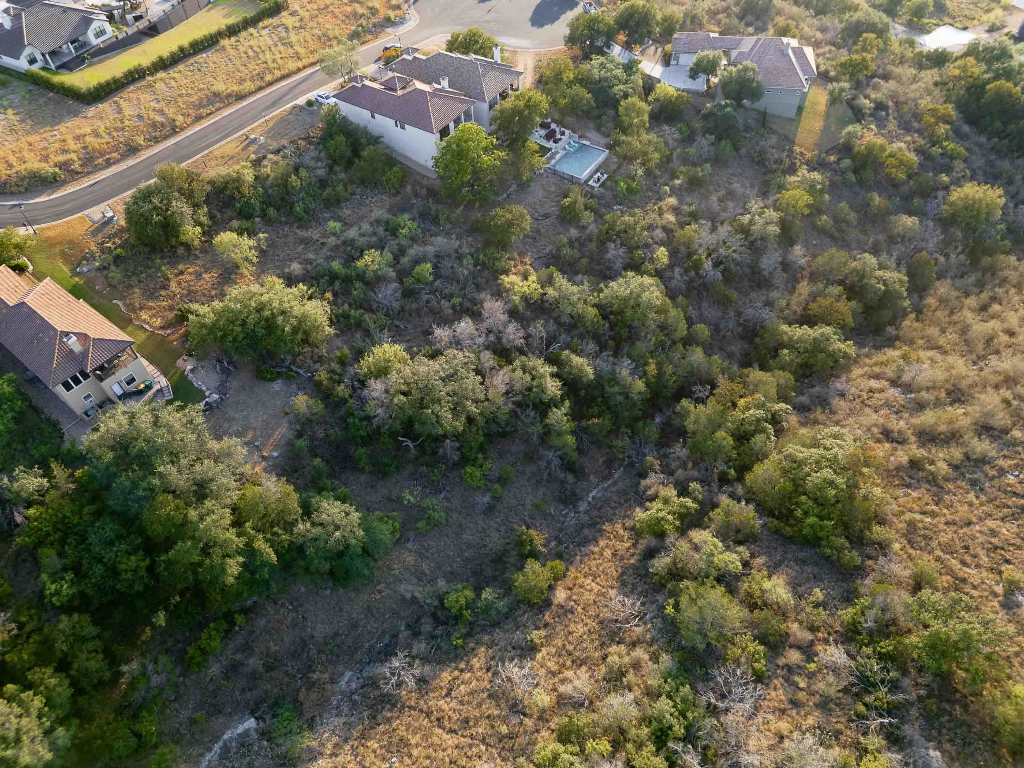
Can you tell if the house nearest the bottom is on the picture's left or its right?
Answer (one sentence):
The house nearest the bottom is on the left side of the image.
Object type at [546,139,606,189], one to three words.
swimming pool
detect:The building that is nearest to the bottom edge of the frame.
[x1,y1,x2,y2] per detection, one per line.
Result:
[0,261,146,422]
